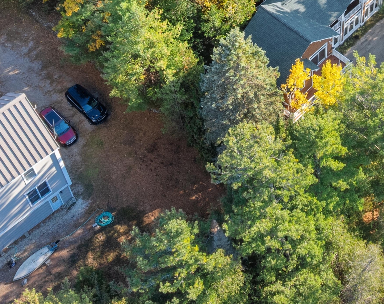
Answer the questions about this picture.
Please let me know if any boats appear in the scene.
Yes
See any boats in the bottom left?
Yes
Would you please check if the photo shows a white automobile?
No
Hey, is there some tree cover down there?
Yes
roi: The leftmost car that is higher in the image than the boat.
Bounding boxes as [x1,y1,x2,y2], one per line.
[37,102,80,153]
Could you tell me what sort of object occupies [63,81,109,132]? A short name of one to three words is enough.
car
